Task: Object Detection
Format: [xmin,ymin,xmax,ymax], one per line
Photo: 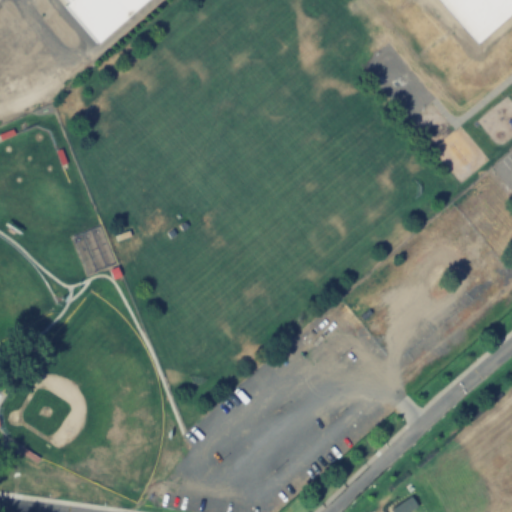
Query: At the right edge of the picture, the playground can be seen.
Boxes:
[479,97,512,145]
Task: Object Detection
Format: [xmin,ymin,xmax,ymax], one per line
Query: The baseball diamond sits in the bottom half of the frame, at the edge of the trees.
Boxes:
[4,292,163,502]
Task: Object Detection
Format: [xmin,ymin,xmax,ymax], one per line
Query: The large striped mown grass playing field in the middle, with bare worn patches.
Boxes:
[60,0,456,400]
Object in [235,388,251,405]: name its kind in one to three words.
camper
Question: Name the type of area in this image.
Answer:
sports ground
